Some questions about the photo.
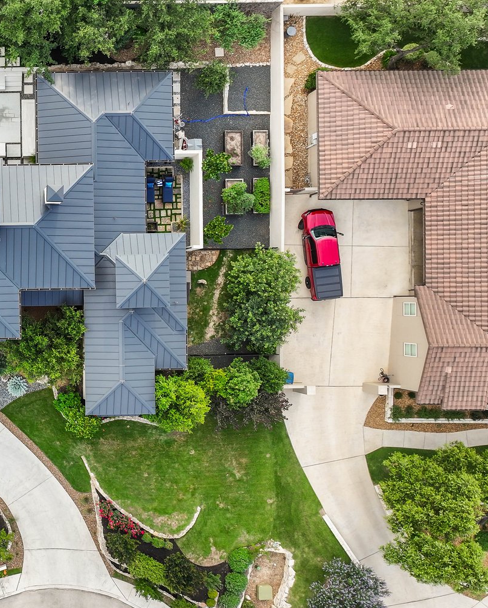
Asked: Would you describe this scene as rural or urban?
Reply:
urban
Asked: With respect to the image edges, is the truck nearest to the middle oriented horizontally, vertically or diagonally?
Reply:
vertically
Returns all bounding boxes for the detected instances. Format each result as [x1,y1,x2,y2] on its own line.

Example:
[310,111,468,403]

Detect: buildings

[0,69,189,418]
[303,69,488,413]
